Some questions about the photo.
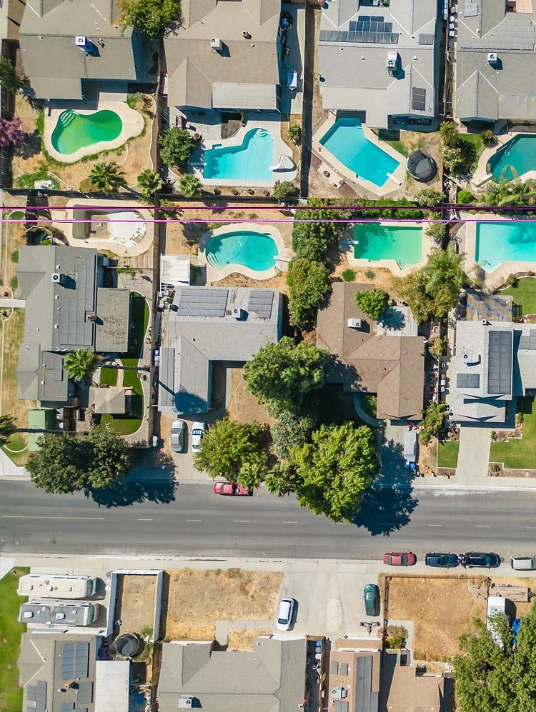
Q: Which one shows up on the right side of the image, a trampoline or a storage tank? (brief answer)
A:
trampoline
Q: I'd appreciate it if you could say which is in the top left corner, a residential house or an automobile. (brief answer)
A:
residential house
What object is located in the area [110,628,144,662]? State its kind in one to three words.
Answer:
trampoline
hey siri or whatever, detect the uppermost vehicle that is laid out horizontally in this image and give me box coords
[215,481,251,497]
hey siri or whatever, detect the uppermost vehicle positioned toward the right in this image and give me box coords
[402,429,419,463]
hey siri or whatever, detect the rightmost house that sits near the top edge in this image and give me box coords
[455,0,536,125]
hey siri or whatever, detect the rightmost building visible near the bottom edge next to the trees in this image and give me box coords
[385,662,443,712]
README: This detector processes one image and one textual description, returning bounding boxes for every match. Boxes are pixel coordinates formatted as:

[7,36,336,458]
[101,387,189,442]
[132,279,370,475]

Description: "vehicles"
[383,551,417,566]
[215,481,251,497]
[463,552,499,569]
[362,582,379,617]
[510,554,536,570]
[15,574,99,600]
[192,421,206,454]
[425,551,460,569]
[171,420,187,452]
[402,429,419,463]
[276,597,295,631]
[18,599,102,625]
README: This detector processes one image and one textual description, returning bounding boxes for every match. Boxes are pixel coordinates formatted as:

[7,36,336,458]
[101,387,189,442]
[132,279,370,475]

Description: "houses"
[162,0,284,114]
[385,662,443,712]
[328,635,383,712]
[151,632,311,712]
[12,244,137,402]
[20,0,143,105]
[159,285,285,414]
[13,629,137,712]
[455,0,536,125]
[314,0,436,133]
[317,281,428,421]
[448,318,536,424]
